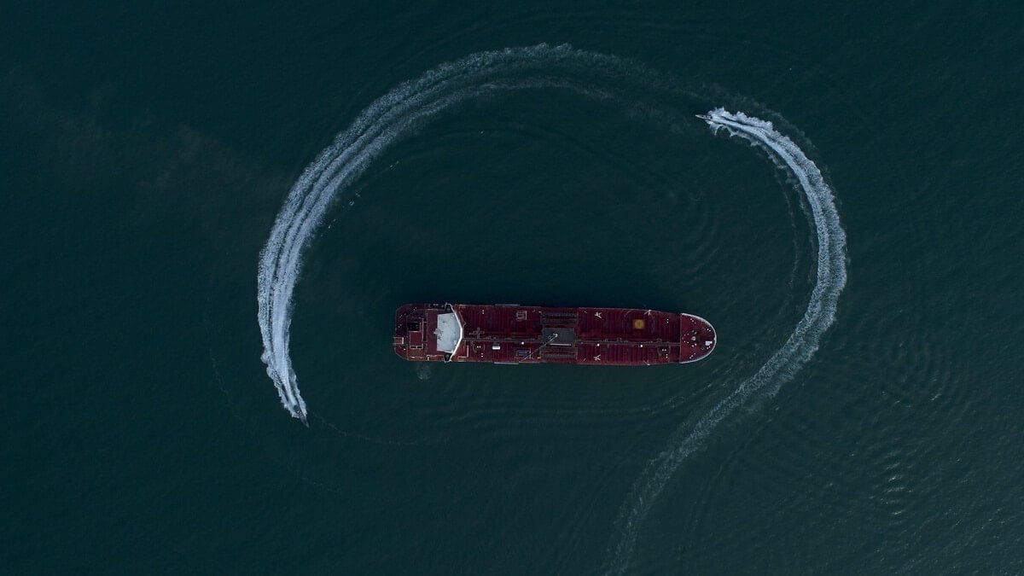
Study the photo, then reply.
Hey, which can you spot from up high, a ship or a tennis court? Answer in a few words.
ship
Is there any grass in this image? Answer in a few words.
No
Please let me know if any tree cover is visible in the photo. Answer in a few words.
No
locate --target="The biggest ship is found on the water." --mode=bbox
[393,303,716,367]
